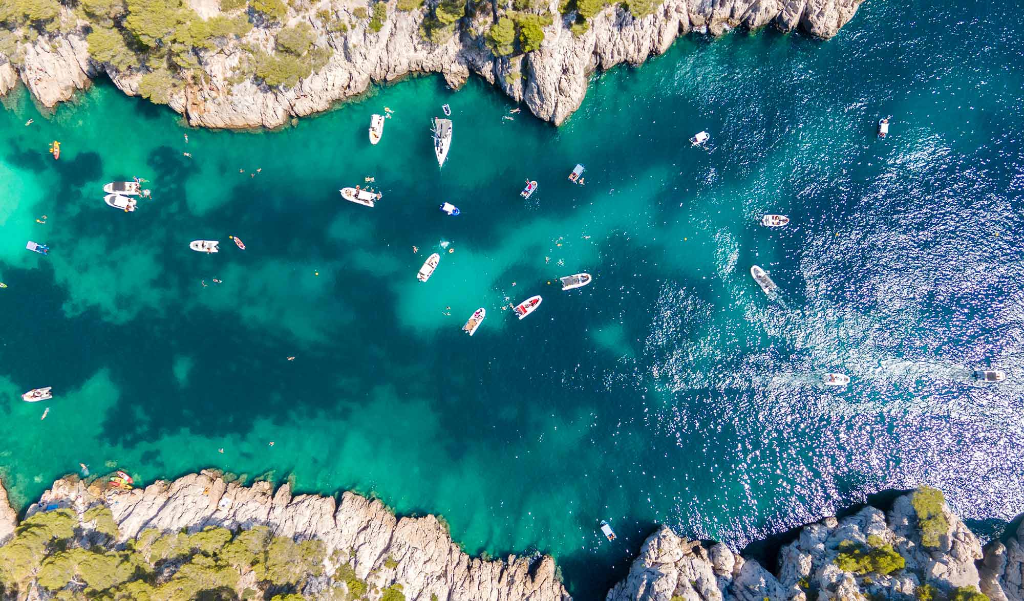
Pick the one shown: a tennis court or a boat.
boat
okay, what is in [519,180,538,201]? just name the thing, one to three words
boat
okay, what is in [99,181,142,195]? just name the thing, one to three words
boat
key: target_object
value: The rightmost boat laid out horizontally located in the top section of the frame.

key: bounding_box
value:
[758,214,791,227]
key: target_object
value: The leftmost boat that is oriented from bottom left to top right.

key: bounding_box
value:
[416,244,443,282]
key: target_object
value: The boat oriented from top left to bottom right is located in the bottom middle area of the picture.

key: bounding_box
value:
[601,521,619,544]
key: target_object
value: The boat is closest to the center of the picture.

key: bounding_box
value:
[514,293,546,319]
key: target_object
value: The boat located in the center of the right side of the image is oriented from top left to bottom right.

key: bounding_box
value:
[752,264,777,294]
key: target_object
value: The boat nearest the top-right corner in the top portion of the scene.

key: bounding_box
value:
[878,117,891,141]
